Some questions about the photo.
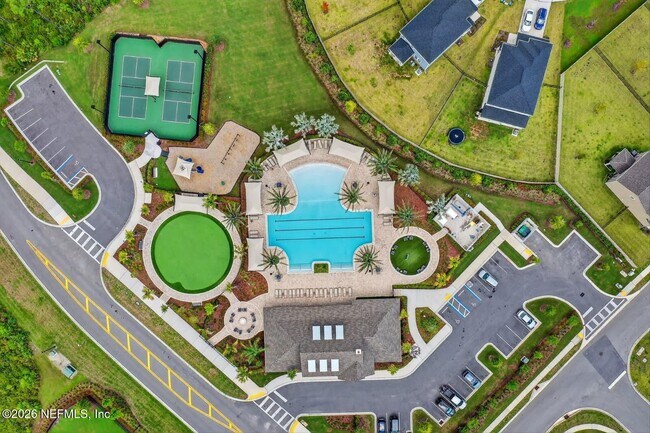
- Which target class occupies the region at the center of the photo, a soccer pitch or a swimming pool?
swimming pool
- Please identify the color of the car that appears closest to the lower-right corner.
white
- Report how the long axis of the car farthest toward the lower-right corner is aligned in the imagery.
at an angle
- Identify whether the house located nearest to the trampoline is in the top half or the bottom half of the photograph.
top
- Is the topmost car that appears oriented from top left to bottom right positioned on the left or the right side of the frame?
right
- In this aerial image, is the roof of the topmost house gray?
No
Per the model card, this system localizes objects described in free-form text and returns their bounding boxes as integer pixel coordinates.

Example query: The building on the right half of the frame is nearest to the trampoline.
[475,33,553,130]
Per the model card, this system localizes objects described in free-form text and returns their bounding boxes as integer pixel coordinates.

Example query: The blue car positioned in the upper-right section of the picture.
[534,6,548,31]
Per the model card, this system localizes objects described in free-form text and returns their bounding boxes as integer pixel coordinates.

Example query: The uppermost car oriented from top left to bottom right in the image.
[477,269,500,289]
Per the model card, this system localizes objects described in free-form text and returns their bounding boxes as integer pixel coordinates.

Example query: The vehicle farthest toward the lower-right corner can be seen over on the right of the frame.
[515,309,537,329]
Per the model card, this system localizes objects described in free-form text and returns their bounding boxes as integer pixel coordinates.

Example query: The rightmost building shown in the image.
[600,145,650,227]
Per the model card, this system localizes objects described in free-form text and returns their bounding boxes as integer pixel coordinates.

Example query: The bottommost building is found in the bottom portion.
[263,298,402,382]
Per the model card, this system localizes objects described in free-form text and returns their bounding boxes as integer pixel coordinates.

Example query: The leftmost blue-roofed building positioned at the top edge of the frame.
[388,0,478,68]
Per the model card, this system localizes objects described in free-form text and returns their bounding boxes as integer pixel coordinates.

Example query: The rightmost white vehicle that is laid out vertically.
[521,8,534,32]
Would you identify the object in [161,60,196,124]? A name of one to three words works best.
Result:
sports court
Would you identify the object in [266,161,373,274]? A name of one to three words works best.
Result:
swimming pool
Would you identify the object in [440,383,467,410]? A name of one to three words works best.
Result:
truck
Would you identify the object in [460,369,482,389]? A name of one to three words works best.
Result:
car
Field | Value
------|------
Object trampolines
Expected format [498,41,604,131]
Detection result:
[448,128,465,145]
